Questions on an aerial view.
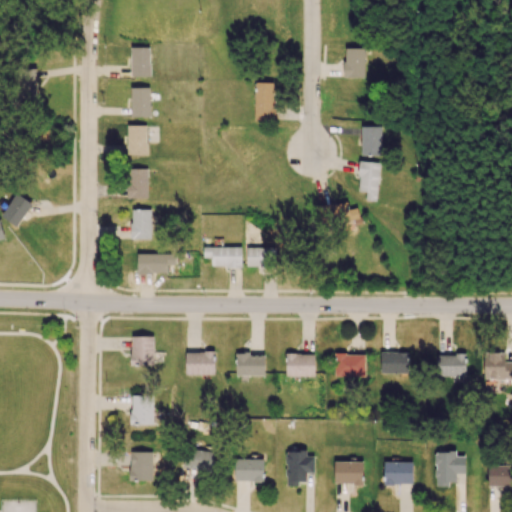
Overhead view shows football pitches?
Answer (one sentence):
No, the picture doesn't show any football pitch.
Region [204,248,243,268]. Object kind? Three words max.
house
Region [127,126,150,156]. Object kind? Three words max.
house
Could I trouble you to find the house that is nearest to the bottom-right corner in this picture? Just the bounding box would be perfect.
[490,466,512,488]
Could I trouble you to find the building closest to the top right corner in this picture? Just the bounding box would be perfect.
[344,48,366,78]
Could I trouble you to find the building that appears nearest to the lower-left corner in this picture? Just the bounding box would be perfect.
[130,452,154,482]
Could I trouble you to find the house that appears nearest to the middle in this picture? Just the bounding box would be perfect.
[247,248,275,268]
